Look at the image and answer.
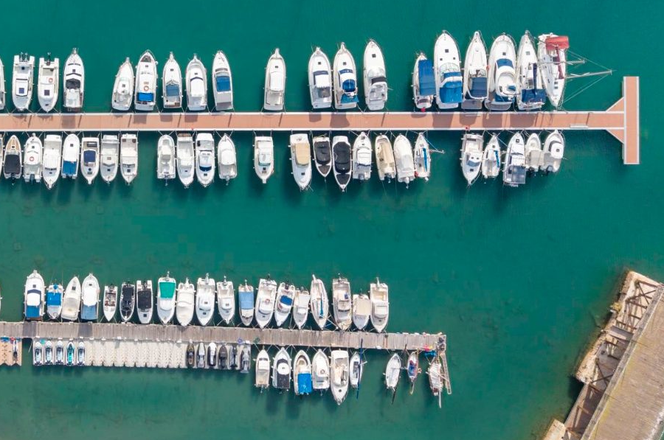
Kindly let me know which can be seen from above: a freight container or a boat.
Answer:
boat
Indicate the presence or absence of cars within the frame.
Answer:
No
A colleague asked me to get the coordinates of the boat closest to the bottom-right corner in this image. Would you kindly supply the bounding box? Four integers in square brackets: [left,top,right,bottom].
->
[427,350,442,394]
